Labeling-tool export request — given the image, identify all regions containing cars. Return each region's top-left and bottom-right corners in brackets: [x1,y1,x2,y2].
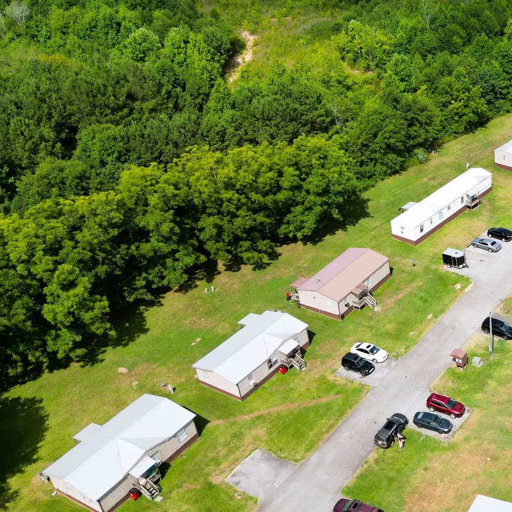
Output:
[485,225,512,241]
[410,410,455,435]
[424,391,467,419]
[331,497,383,512]
[349,340,388,362]
[470,237,502,253]
[481,315,512,339]
[373,411,409,450]
[338,348,377,376]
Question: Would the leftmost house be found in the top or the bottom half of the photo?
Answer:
bottom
